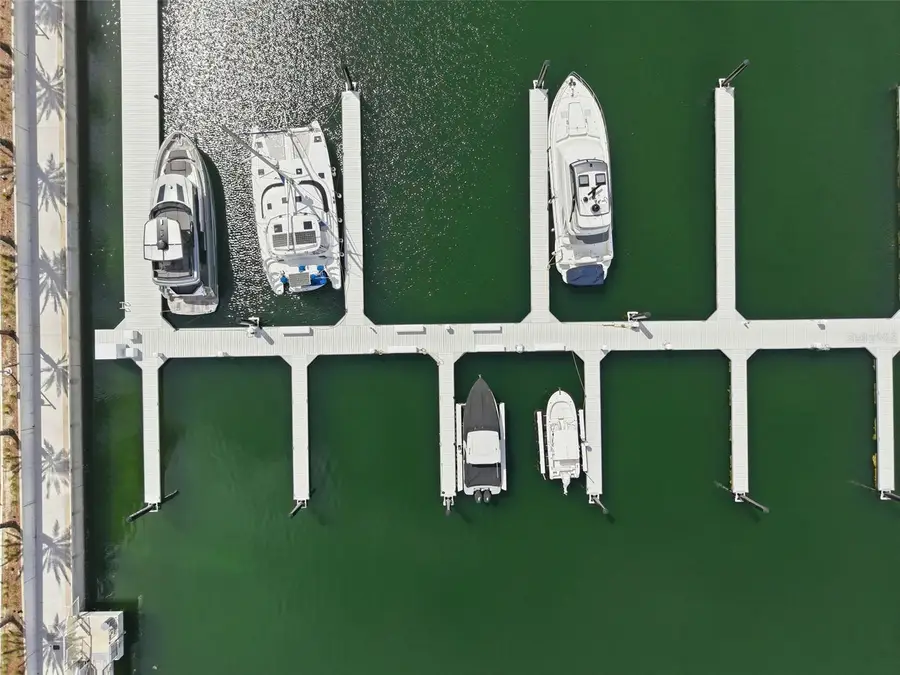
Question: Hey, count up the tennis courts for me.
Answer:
0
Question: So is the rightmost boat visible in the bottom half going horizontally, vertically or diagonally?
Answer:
vertically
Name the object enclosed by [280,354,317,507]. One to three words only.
pier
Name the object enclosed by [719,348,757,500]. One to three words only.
pier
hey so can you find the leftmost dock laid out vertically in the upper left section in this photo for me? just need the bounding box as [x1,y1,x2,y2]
[112,0,178,328]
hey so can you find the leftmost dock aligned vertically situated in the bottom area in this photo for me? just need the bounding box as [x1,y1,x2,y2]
[131,356,170,511]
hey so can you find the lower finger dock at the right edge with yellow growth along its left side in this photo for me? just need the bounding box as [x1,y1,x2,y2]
[864,345,900,499]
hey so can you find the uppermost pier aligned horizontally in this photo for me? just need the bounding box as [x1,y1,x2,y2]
[94,317,900,357]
